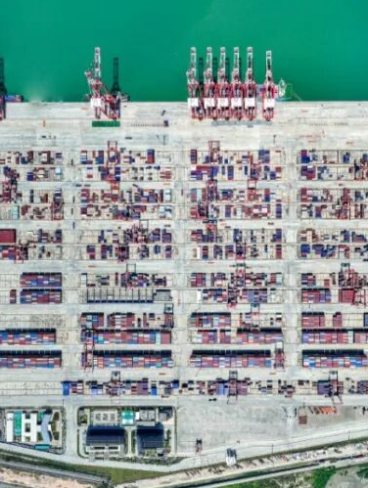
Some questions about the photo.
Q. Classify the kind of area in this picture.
port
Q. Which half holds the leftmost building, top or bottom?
bottom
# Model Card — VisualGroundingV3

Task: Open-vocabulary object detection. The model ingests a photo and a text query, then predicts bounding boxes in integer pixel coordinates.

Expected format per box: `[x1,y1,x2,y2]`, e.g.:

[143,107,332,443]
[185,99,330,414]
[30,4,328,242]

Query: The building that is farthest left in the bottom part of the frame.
[21,410,41,443]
